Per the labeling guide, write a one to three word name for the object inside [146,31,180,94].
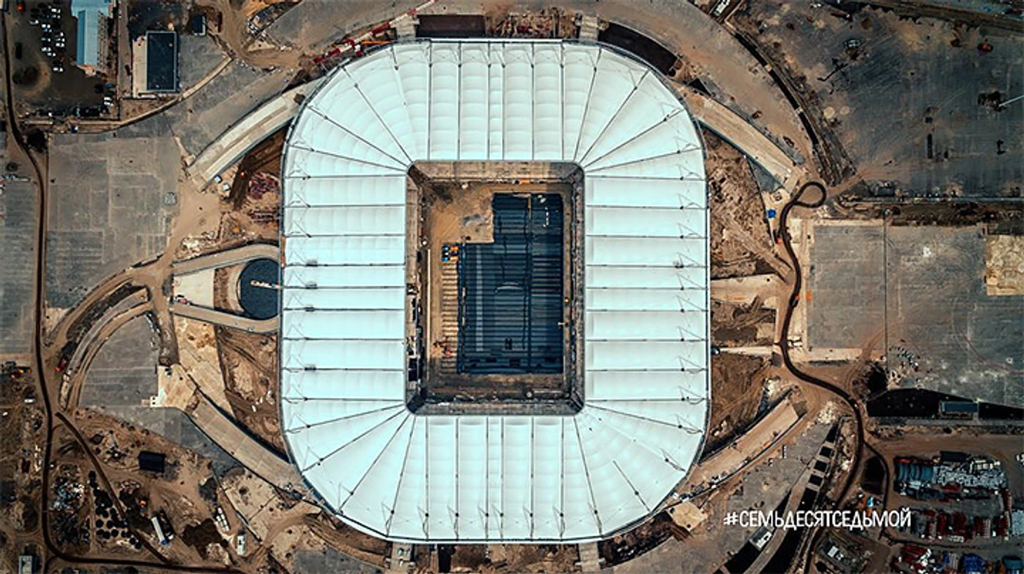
building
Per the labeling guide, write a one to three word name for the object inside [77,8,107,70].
building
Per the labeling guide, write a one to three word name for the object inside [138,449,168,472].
shed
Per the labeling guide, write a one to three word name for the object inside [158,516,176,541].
vehicle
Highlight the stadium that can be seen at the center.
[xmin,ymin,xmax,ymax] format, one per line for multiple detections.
[280,39,710,545]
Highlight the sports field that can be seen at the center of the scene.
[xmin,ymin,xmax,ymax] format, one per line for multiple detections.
[458,193,564,374]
